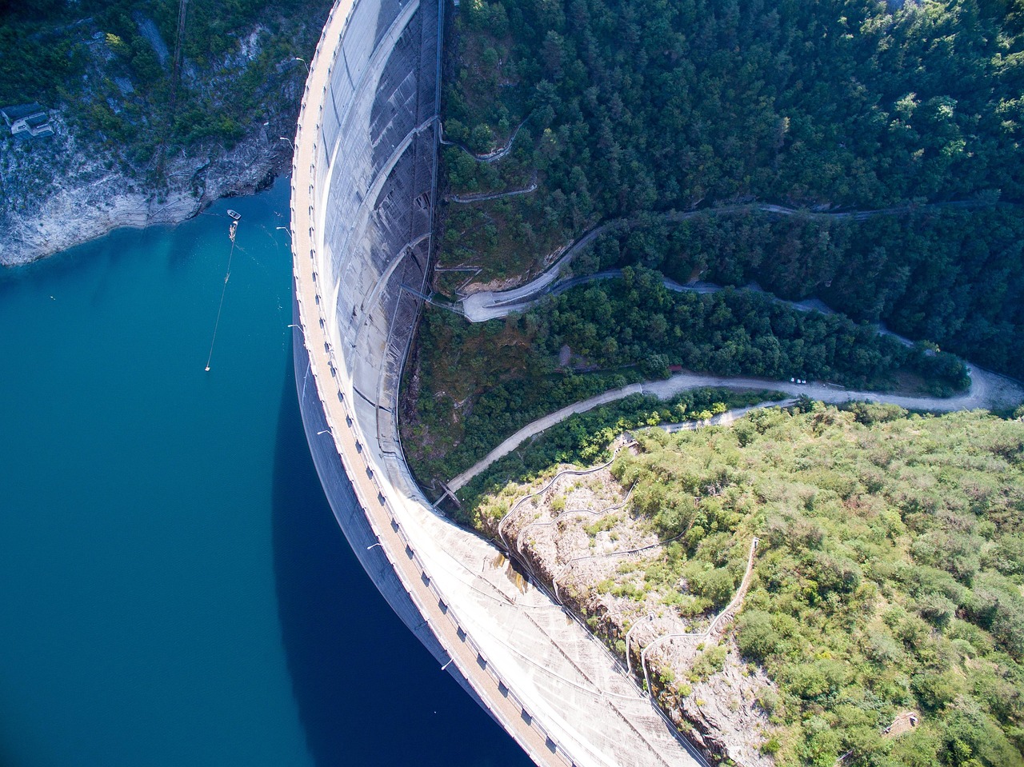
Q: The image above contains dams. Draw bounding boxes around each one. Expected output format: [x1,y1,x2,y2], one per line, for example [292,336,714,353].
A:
[288,0,719,767]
